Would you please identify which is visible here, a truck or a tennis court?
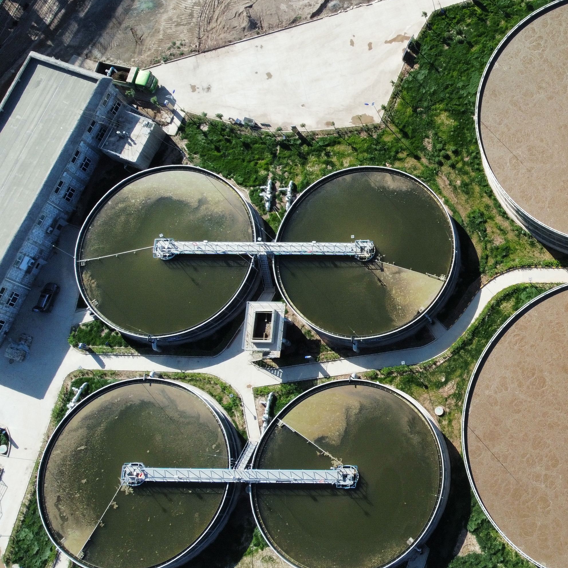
truck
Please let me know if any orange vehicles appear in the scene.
No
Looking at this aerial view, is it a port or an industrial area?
industrial area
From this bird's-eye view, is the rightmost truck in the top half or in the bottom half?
top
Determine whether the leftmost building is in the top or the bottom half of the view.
top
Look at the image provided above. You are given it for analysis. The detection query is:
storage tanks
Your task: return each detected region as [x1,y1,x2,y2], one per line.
[249,378,451,568]
[462,283,568,568]
[274,165,462,347]
[37,377,245,568]
[476,0,568,255]
[75,165,267,347]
